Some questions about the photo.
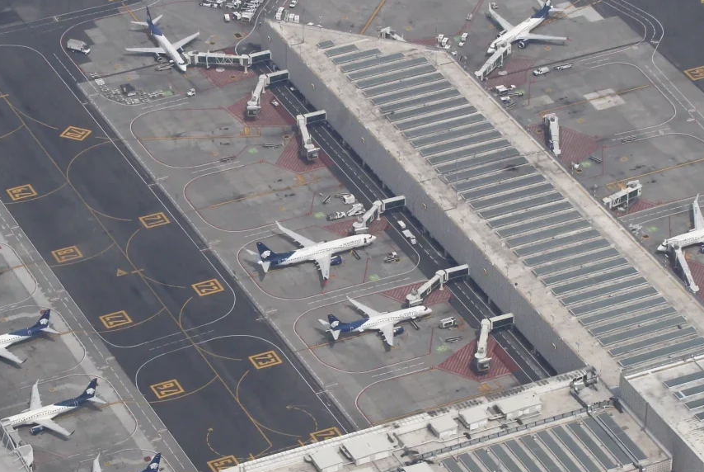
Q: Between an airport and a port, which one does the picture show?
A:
airport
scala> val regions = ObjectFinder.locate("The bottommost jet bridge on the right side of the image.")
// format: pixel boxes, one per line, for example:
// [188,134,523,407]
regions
[474,310,511,374]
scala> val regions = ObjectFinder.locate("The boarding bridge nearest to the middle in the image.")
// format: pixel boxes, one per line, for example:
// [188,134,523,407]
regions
[351,192,403,236]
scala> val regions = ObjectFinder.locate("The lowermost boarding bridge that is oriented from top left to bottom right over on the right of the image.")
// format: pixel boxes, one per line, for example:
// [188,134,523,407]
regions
[664,245,704,303]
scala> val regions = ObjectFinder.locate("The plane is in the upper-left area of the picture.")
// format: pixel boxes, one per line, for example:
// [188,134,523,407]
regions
[123,8,199,72]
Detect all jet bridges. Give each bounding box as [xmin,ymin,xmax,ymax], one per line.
[294,107,325,163]
[664,245,704,303]
[597,181,640,211]
[407,262,467,311]
[468,44,509,82]
[351,192,403,236]
[474,310,511,374]
[541,117,564,164]
[183,50,272,80]
[245,68,289,121]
